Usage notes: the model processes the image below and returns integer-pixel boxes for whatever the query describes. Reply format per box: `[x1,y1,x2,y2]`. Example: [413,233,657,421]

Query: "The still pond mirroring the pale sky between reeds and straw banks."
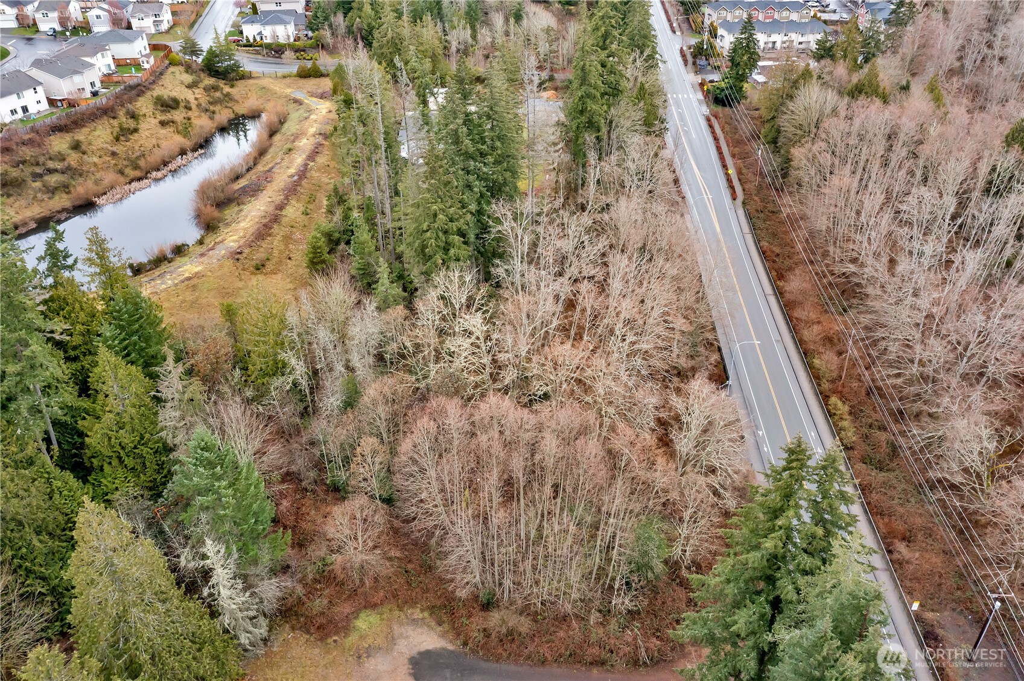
[4,116,264,300]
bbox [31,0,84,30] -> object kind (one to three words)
house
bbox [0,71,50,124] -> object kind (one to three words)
house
